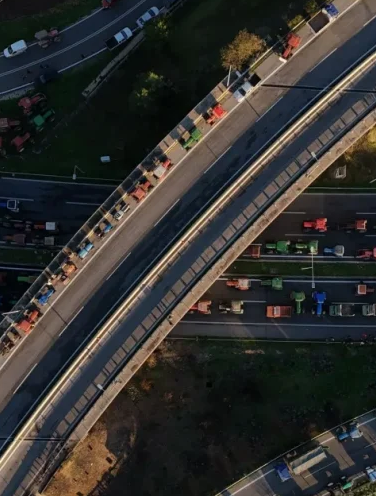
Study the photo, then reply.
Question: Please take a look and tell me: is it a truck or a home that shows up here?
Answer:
truck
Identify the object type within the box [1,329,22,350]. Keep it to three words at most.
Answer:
work vehicle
